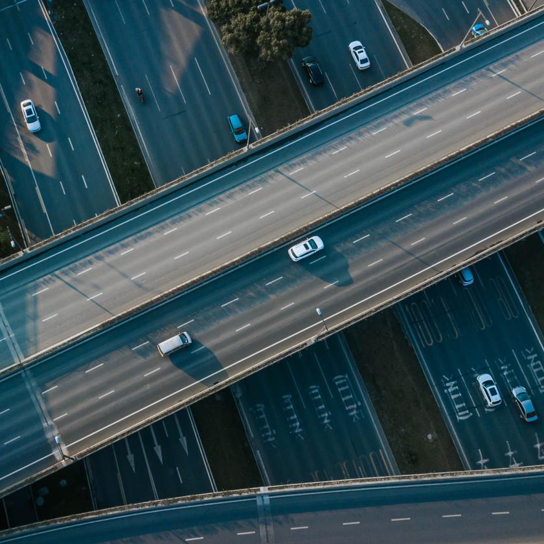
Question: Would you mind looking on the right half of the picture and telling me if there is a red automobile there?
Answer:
No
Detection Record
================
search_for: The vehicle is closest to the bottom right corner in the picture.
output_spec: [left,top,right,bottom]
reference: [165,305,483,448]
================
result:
[511,386,539,425]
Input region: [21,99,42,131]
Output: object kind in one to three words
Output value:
car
